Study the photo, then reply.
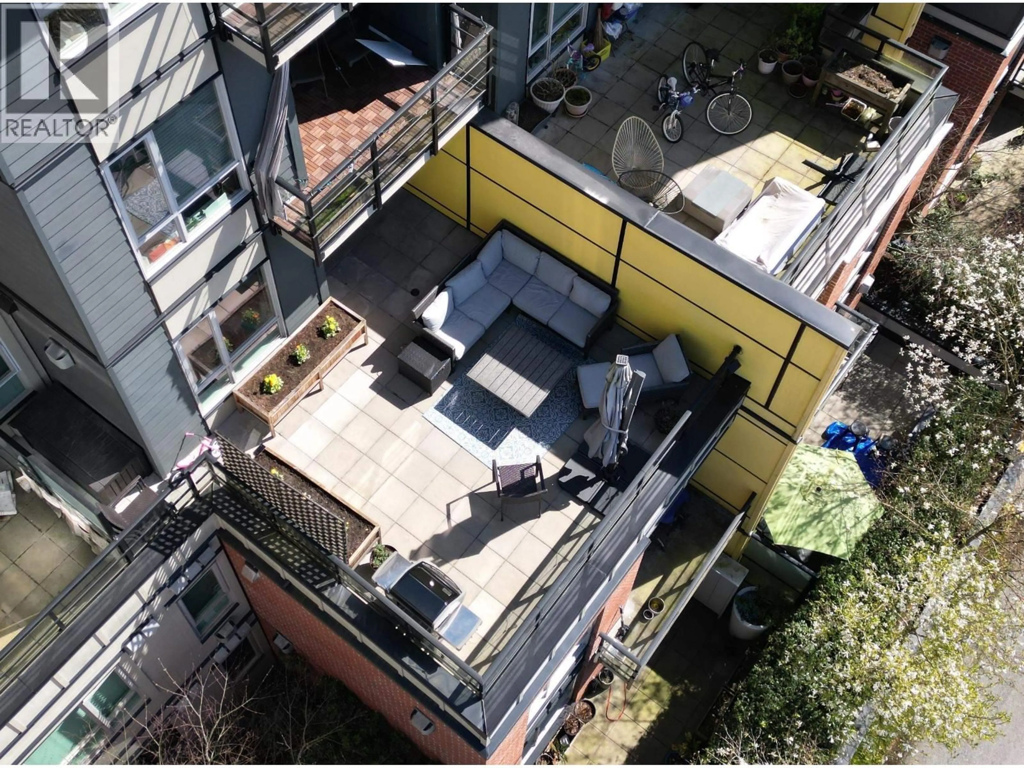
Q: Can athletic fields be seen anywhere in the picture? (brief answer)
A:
No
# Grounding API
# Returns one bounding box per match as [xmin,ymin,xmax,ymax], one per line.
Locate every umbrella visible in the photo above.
[555,351,661,522]
[764,447,886,564]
